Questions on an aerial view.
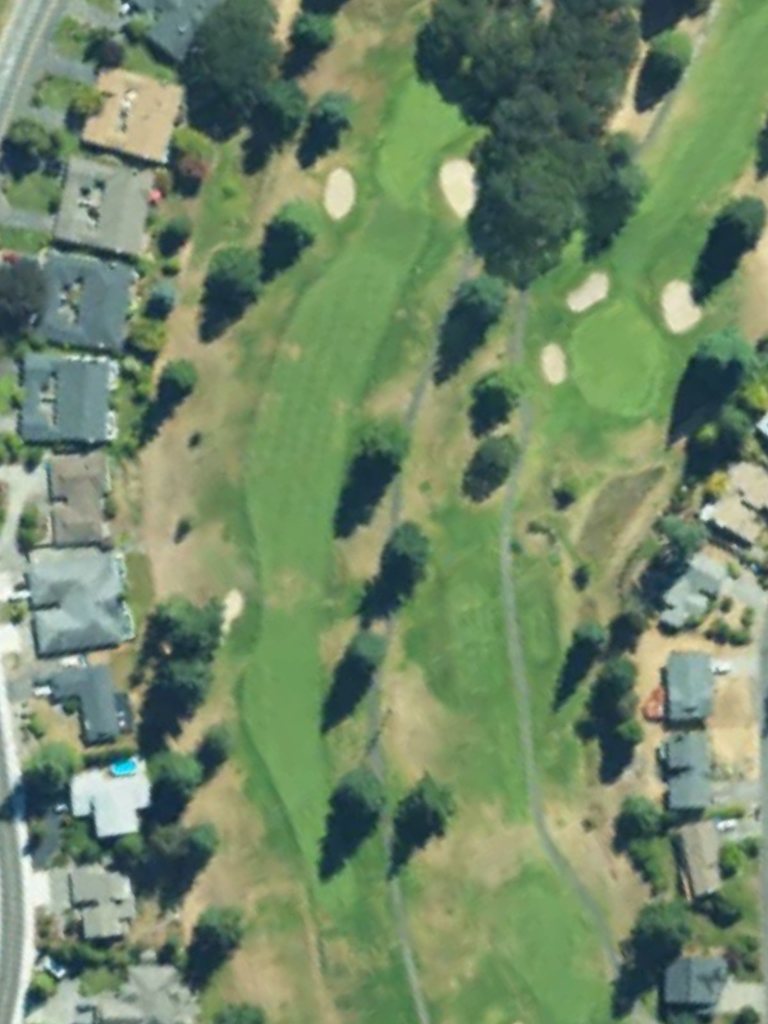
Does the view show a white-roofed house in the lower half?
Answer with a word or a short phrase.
Yes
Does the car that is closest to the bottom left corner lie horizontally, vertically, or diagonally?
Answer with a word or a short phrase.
diagonally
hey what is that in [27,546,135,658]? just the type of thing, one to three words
house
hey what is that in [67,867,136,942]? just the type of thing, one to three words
house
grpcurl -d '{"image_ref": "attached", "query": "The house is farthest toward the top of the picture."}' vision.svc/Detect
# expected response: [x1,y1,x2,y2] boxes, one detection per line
[128,0,210,62]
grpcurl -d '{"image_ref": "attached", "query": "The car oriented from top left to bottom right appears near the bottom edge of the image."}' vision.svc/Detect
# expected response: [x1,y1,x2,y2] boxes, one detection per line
[43,958,65,978]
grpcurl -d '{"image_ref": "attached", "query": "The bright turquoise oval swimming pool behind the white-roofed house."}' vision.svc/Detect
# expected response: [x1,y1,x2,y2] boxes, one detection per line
[110,757,137,775]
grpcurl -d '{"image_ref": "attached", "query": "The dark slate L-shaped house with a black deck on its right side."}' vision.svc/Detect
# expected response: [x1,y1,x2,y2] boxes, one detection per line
[47,663,134,744]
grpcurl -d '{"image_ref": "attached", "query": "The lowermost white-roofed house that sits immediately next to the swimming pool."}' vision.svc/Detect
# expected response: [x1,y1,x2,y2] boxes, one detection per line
[70,773,152,839]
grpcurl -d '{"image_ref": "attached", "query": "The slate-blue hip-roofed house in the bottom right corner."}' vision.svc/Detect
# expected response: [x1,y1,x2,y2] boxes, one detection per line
[666,958,729,1005]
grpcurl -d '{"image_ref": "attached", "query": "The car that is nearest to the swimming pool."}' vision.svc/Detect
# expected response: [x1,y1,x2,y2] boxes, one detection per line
[51,802,71,815]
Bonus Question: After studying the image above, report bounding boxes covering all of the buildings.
[34,256,140,348]
[90,965,201,1024]
[667,653,713,720]
[755,406,768,438]
[27,546,135,658]
[700,462,768,546]
[49,454,110,545]
[140,950,156,961]
[660,731,712,810]
[666,958,729,1005]
[79,65,185,161]
[682,824,724,897]
[70,773,152,839]
[47,663,134,744]
[128,0,210,62]
[52,156,152,254]
[659,551,732,629]
[22,353,118,442]
[67,867,136,942]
